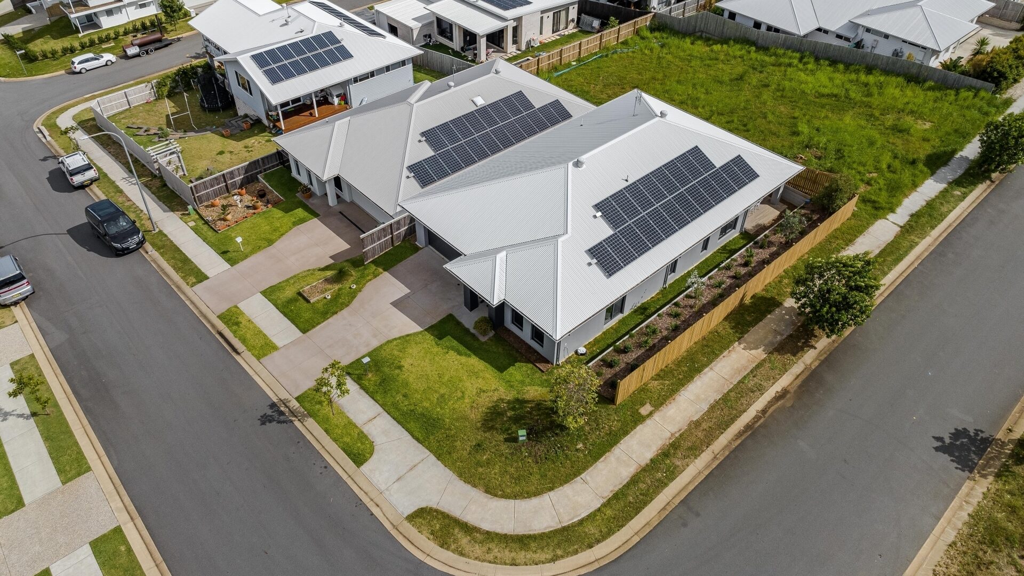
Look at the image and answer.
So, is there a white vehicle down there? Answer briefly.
Yes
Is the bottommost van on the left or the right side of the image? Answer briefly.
left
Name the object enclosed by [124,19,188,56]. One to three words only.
trailer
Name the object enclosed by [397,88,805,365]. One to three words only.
house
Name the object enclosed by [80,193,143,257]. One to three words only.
van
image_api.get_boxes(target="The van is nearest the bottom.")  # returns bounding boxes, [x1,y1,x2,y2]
[0,249,37,311]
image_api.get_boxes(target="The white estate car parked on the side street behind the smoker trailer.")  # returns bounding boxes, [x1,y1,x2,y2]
[67,53,118,75]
